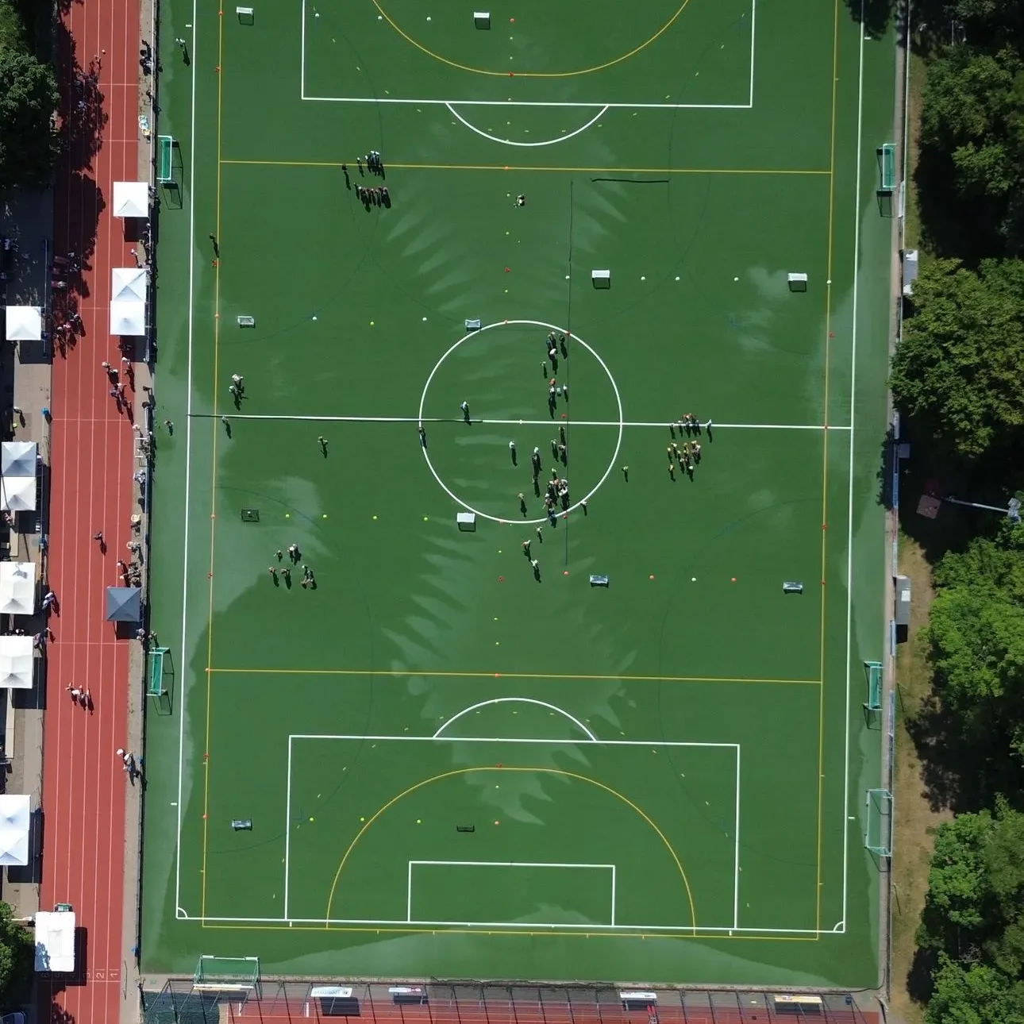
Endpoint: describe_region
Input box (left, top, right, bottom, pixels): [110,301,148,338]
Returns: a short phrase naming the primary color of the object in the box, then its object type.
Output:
white tent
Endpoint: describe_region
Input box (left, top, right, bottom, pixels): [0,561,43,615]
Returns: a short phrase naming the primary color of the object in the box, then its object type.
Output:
white tent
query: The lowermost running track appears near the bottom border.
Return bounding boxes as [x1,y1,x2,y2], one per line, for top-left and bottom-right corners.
[228,1001,879,1024]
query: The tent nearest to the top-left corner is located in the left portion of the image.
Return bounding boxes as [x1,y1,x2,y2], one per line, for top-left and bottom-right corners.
[113,182,151,221]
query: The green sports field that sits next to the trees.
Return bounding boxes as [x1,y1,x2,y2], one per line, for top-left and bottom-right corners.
[141,0,897,988]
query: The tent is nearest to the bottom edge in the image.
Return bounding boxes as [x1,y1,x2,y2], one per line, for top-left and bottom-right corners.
[34,905,77,972]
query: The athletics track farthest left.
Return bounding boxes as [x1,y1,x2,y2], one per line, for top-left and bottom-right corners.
[36,0,139,1024]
